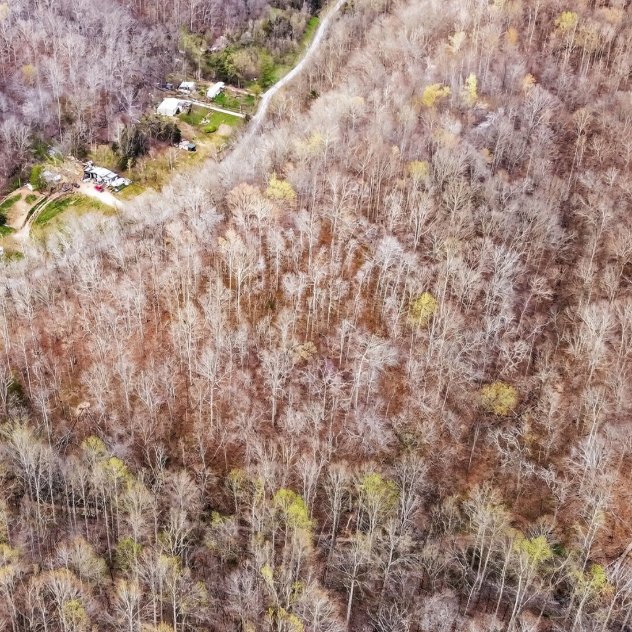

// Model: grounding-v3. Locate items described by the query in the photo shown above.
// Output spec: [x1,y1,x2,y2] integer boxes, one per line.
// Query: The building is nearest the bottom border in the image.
[77,167,115,189]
